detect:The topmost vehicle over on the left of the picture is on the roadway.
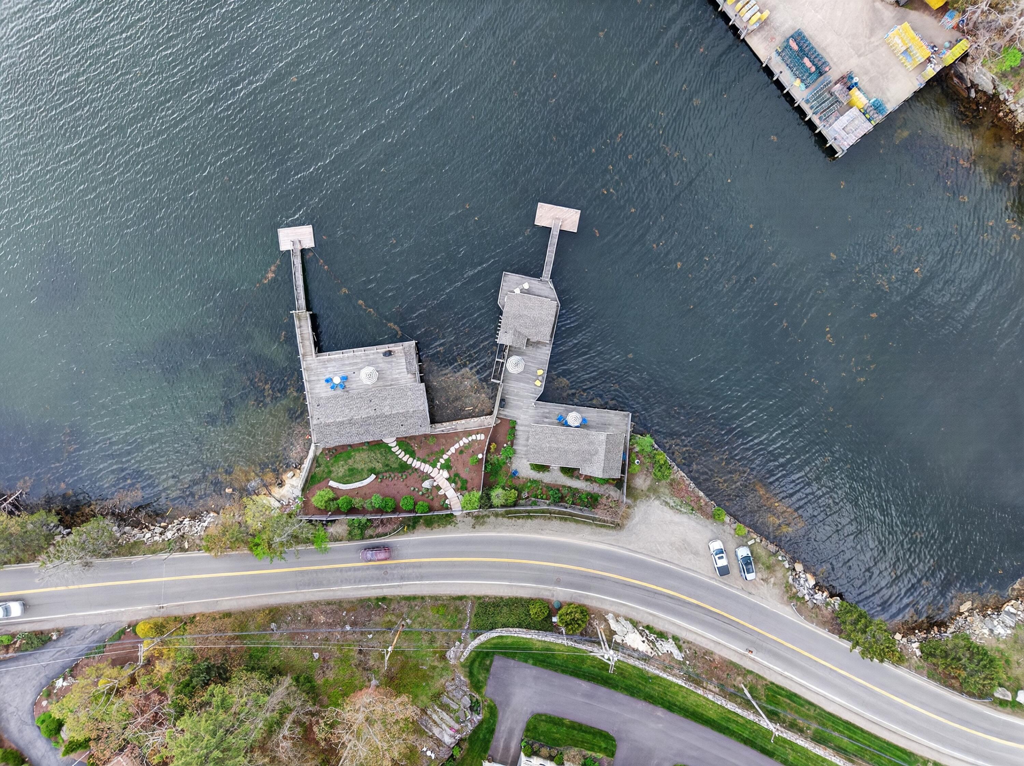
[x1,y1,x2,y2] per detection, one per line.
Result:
[360,546,392,564]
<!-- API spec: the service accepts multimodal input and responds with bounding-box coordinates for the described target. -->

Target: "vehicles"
[360,546,392,564]
[0,602,22,619]
[709,540,732,579]
[737,546,760,584]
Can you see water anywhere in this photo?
Yes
